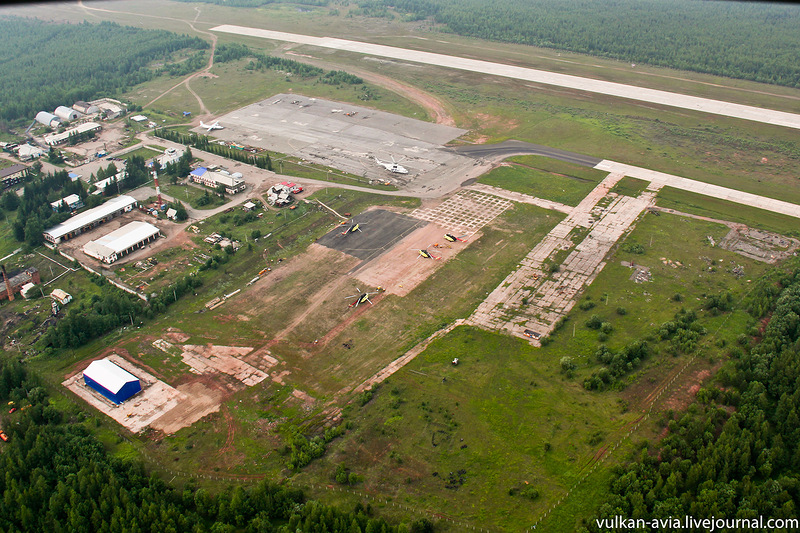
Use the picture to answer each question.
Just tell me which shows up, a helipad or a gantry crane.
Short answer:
helipad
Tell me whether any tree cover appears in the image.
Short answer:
Yes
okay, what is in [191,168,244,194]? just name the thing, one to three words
building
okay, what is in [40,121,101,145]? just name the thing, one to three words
building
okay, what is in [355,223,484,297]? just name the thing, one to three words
helipad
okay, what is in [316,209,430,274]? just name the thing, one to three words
helipad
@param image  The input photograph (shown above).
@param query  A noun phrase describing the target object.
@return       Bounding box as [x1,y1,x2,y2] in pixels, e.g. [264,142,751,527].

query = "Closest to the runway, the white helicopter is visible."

[370,155,410,175]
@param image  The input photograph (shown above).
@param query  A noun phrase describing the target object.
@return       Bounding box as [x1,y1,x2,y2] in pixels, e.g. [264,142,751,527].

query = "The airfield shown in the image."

[180,24,800,392]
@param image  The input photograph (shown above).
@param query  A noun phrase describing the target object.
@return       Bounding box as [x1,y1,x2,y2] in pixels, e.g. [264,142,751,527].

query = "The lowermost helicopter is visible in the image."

[344,288,378,308]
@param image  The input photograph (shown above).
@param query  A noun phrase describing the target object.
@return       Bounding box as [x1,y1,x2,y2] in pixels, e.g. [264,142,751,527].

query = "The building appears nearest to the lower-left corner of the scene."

[82,360,141,404]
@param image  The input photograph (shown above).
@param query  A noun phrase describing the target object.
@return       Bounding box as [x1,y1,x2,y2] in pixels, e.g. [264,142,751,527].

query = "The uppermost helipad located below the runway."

[411,188,516,237]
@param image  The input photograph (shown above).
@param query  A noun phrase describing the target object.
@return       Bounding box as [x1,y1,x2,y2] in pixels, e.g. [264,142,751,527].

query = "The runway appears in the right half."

[210,24,800,128]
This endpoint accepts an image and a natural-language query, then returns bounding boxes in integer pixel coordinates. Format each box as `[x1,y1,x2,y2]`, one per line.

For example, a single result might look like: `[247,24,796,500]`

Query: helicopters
[445,232,472,242]
[415,244,445,259]
[370,155,410,175]
[344,288,378,308]
[338,220,365,235]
